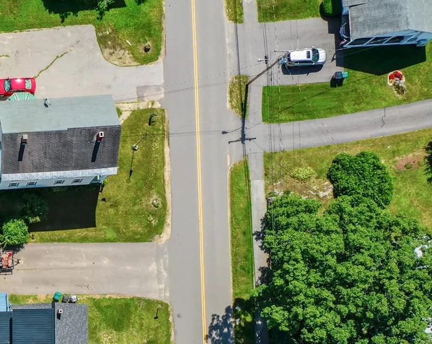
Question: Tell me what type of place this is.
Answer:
residential area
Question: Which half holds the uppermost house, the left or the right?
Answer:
right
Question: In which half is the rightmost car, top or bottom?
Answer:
top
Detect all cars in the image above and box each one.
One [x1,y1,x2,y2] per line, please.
[279,48,324,72]
[0,77,36,99]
